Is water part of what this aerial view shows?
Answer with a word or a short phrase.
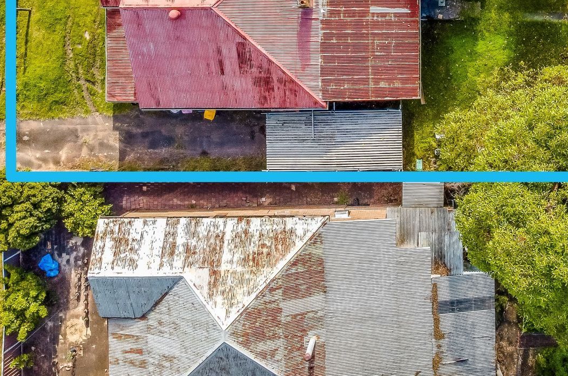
No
